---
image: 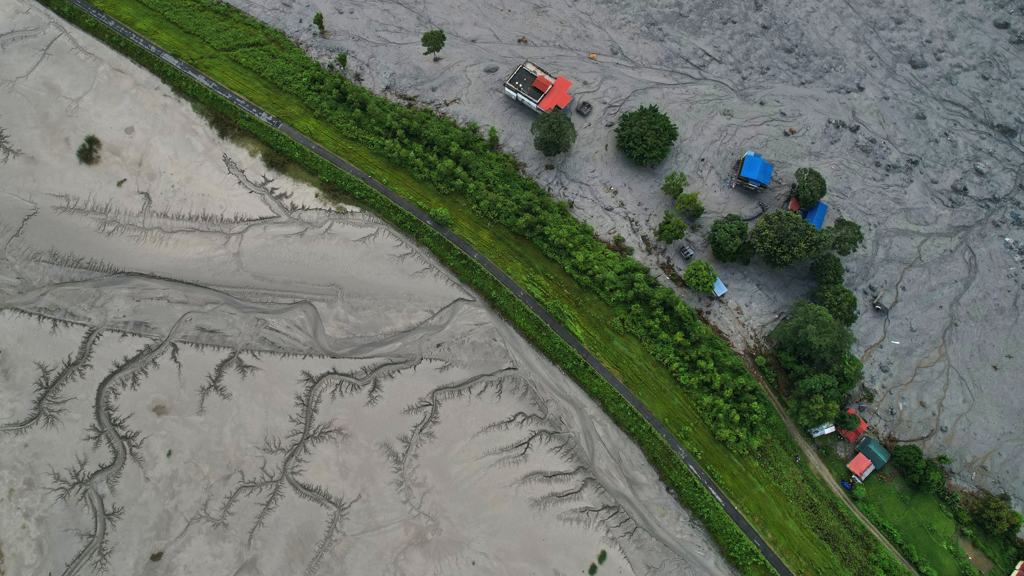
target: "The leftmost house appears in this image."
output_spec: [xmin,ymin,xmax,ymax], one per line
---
[503,58,573,115]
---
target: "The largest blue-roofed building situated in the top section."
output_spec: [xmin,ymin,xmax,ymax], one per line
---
[735,151,774,191]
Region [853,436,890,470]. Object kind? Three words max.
building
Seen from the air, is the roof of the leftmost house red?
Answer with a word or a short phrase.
Yes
